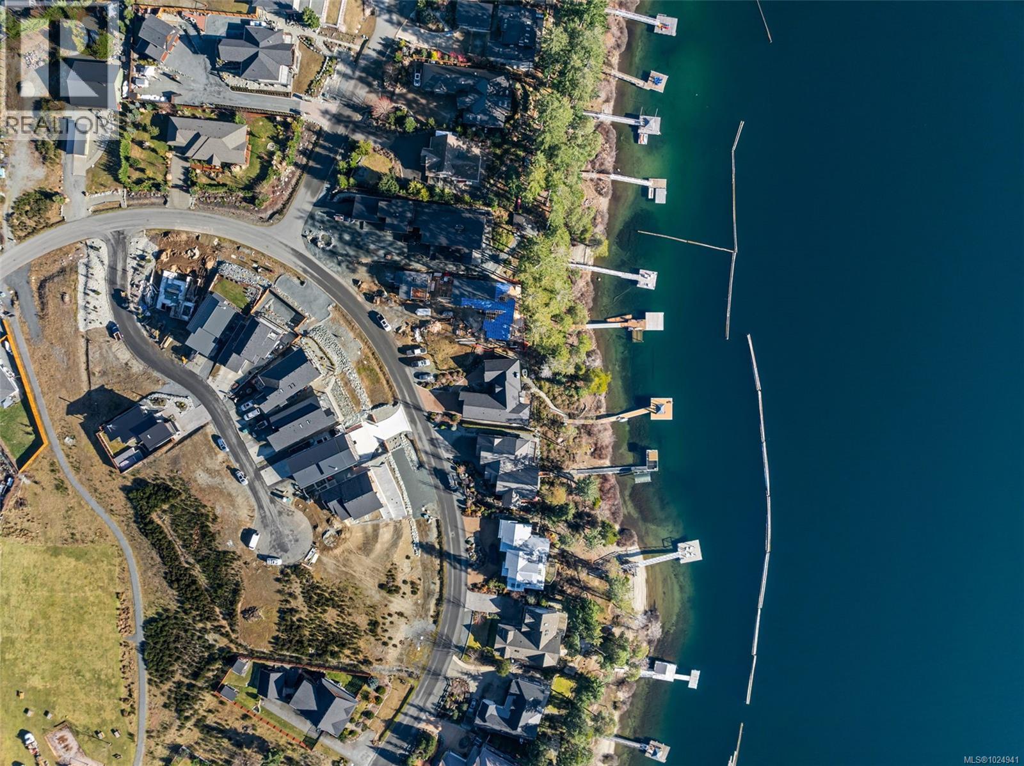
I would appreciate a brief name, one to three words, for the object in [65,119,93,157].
shed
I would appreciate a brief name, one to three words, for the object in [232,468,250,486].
car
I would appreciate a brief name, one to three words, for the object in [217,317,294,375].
house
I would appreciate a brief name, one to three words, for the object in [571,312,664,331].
pier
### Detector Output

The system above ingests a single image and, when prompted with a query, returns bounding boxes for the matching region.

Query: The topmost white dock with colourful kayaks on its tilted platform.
[606,5,679,37]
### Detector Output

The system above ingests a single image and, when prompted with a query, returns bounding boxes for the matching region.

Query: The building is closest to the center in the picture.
[458,359,530,424]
